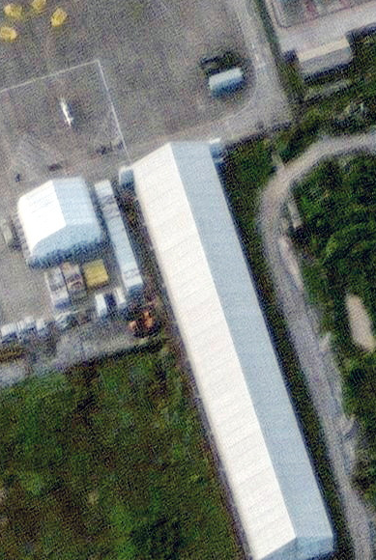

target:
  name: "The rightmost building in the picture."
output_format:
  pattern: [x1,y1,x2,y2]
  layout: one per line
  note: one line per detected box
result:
[296,39,354,79]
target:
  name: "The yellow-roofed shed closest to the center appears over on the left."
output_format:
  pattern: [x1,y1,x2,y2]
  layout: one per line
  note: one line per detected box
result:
[84,260,108,287]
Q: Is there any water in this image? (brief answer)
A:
No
